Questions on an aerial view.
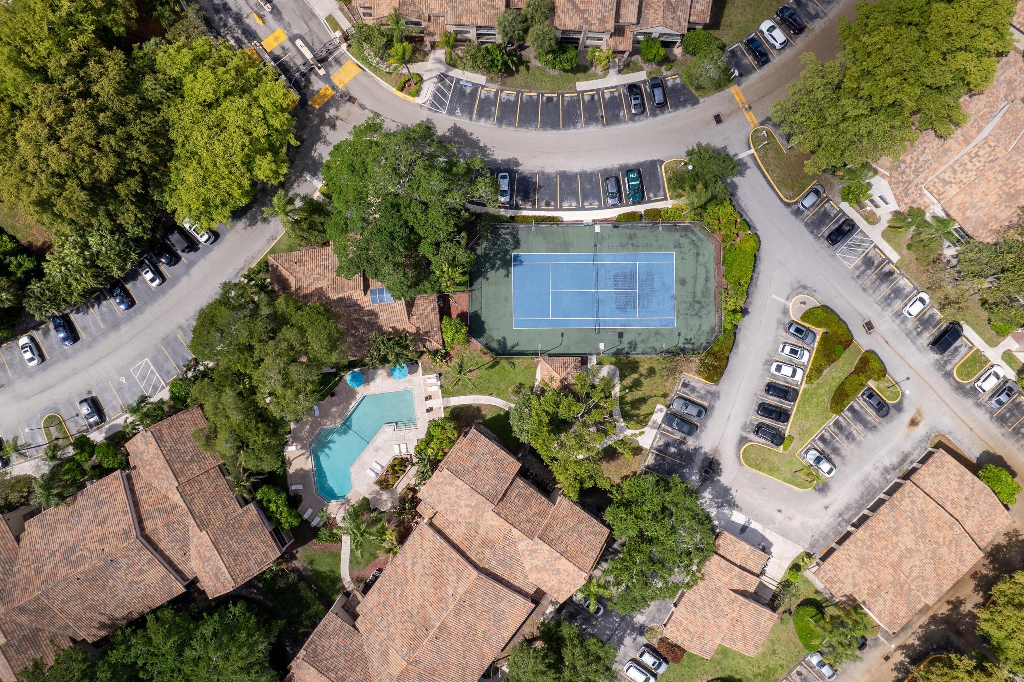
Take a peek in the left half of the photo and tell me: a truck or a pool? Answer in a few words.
pool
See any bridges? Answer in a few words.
No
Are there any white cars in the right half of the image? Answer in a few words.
Yes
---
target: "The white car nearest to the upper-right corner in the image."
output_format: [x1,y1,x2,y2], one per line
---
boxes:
[760,18,788,52]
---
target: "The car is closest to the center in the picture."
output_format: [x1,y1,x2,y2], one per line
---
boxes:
[497,171,512,205]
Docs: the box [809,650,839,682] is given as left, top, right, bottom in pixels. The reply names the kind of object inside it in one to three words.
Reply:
car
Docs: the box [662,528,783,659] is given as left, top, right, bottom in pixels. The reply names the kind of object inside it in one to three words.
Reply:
building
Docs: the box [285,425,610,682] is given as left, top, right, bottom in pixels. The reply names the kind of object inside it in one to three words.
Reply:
building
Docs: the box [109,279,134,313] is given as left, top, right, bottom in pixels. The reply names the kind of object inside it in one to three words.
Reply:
car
